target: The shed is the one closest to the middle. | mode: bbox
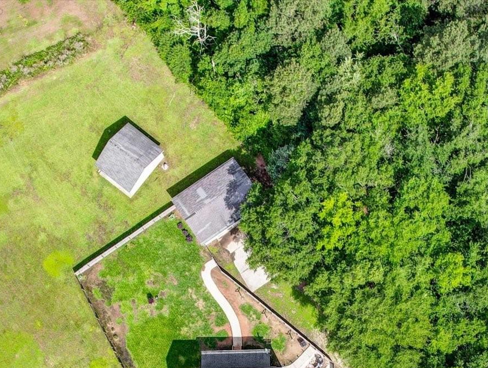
[173,160,259,247]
